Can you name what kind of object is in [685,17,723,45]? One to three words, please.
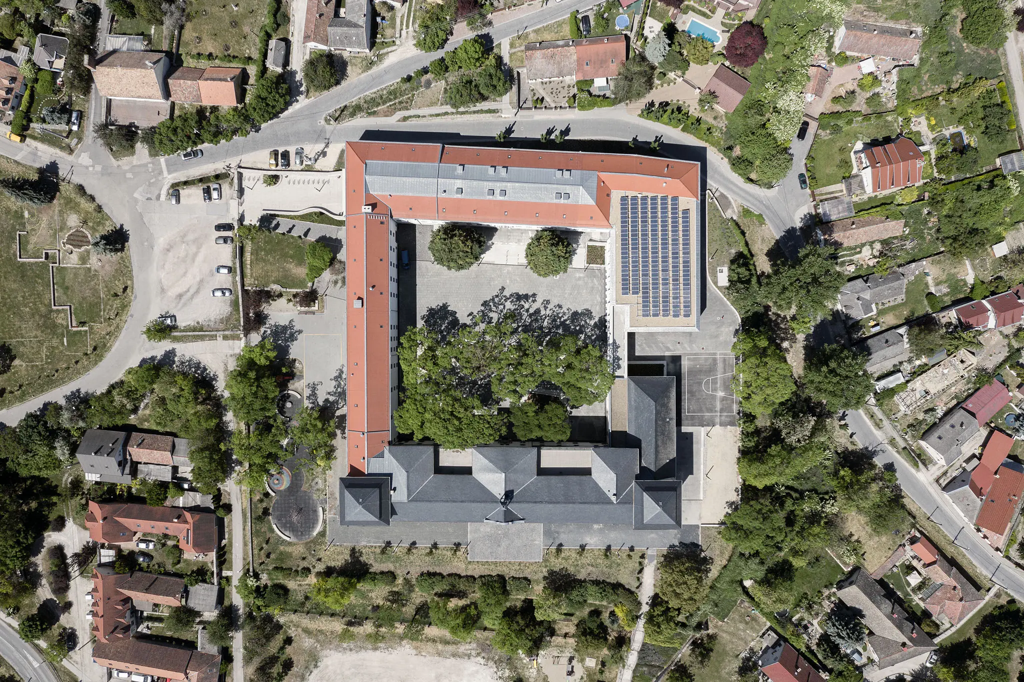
swimming pool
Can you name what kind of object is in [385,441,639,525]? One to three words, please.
building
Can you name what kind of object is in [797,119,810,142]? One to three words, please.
vehicle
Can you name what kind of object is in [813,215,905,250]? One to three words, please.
house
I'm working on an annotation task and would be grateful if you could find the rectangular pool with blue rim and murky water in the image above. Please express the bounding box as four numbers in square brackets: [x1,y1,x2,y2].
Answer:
[949,129,969,149]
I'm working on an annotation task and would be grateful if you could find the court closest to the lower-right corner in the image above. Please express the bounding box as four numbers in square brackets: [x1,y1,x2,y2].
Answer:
[627,352,740,427]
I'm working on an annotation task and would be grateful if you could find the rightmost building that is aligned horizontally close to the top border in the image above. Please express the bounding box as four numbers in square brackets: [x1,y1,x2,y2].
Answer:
[833,21,923,64]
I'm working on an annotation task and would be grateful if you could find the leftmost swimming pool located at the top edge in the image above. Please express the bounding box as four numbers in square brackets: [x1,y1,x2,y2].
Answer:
[615,12,630,29]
